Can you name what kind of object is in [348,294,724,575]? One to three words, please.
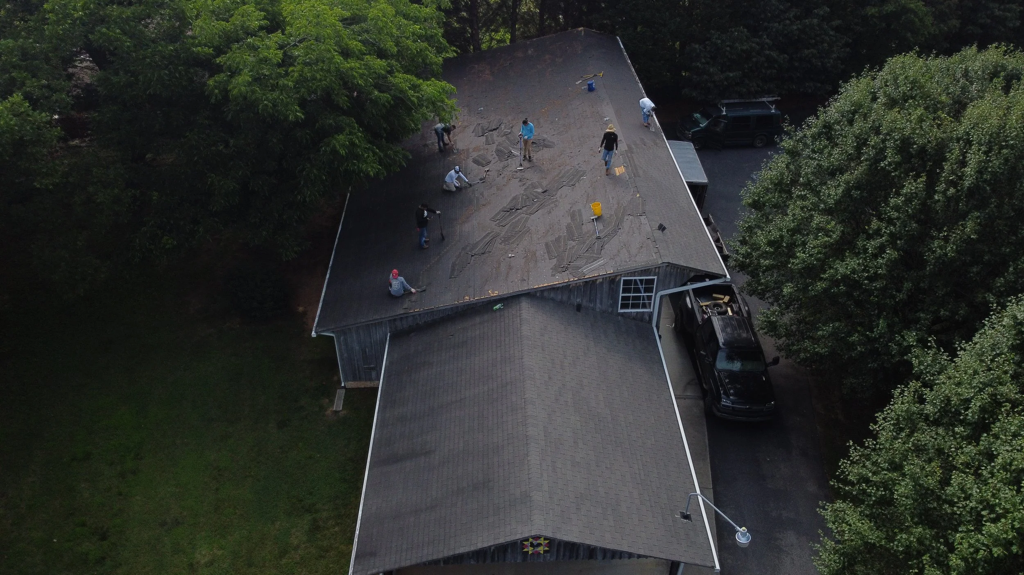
building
